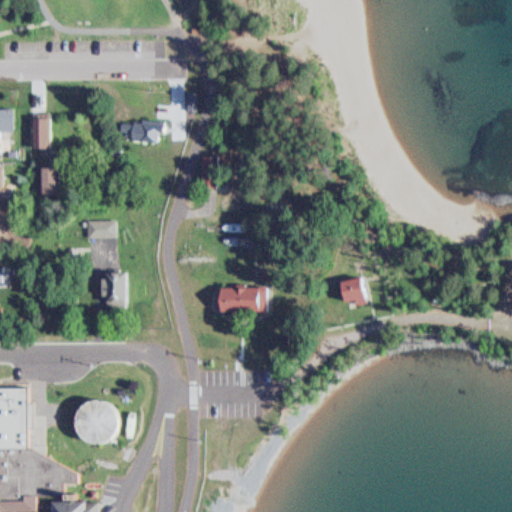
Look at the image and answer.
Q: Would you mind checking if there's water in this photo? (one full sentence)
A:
Yes, some water is visible.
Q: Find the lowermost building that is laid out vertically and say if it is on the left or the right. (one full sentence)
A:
The lowermost building that is laid out vertically sits on the left side.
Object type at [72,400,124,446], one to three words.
storage tank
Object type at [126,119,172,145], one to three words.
house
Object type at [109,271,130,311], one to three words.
house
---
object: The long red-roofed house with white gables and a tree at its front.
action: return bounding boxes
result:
[220,286,269,312]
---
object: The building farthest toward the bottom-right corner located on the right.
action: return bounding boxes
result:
[340,276,370,308]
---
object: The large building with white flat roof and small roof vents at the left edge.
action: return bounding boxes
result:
[0,386,32,450]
